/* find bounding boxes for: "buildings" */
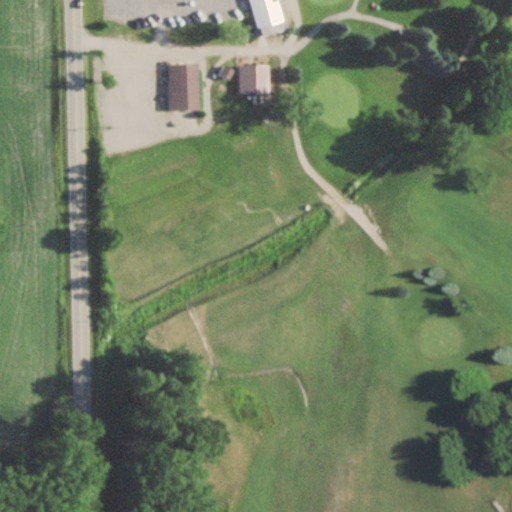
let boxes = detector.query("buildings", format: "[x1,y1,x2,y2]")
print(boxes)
[249,0,288,38]
[169,64,200,111]
[218,66,236,82]
[238,64,271,94]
